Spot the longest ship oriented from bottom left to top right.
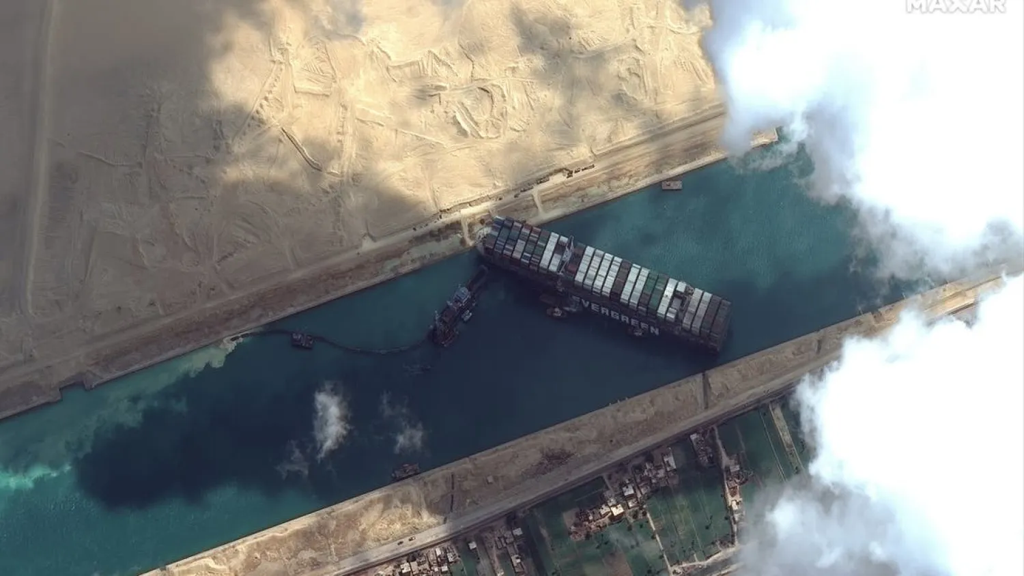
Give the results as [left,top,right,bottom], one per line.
[433,274,482,346]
